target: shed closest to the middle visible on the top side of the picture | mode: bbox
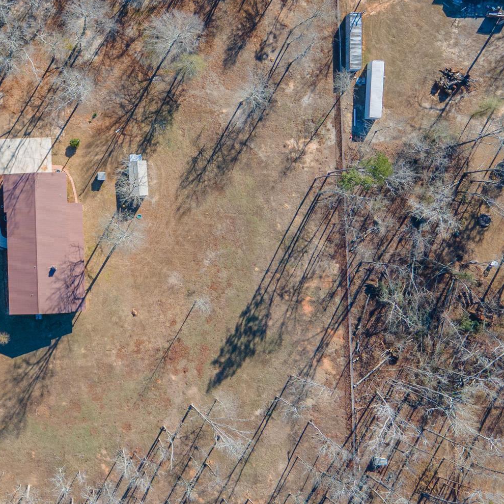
[128,155,149,197]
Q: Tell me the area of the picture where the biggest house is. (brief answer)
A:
left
